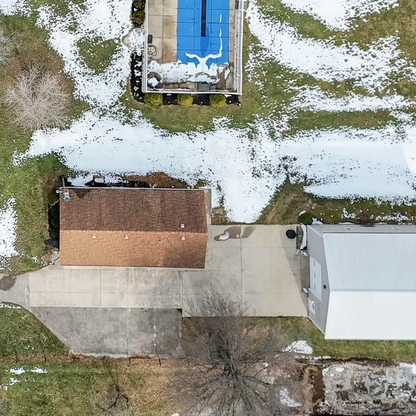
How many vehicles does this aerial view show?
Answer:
0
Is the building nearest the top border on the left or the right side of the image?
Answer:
left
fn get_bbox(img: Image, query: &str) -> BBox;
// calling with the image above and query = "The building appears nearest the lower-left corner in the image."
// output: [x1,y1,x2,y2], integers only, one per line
[59,185,210,269]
